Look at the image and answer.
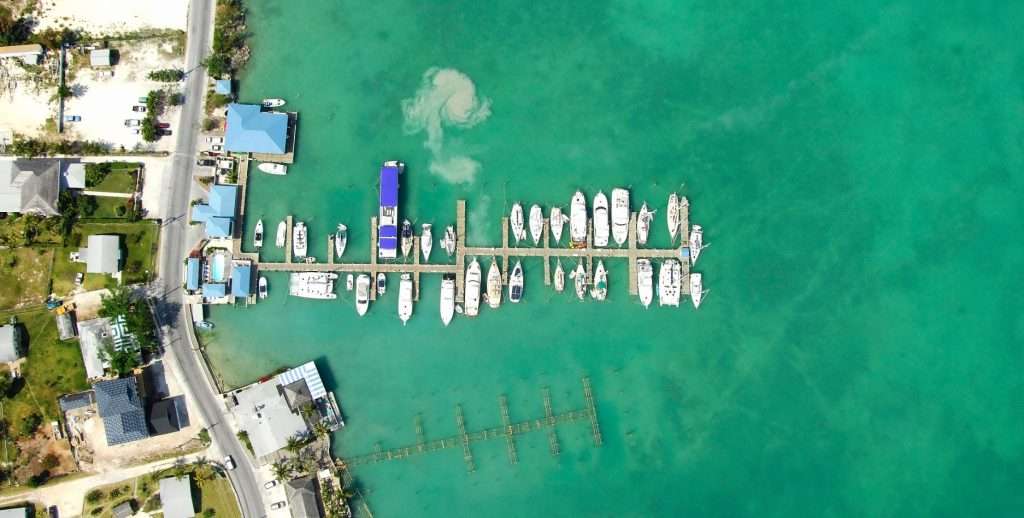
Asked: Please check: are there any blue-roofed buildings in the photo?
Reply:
Yes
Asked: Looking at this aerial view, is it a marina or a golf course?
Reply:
marina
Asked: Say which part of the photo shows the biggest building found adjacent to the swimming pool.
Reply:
left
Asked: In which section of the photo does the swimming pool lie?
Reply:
left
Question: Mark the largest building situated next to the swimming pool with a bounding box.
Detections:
[192,185,240,237]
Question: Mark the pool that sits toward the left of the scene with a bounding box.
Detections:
[207,251,228,284]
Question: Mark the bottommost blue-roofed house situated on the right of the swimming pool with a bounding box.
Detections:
[232,266,252,296]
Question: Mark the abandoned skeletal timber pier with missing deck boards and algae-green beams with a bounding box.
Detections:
[338,376,603,473]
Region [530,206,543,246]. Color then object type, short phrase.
white boat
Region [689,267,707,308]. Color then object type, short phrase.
white boat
